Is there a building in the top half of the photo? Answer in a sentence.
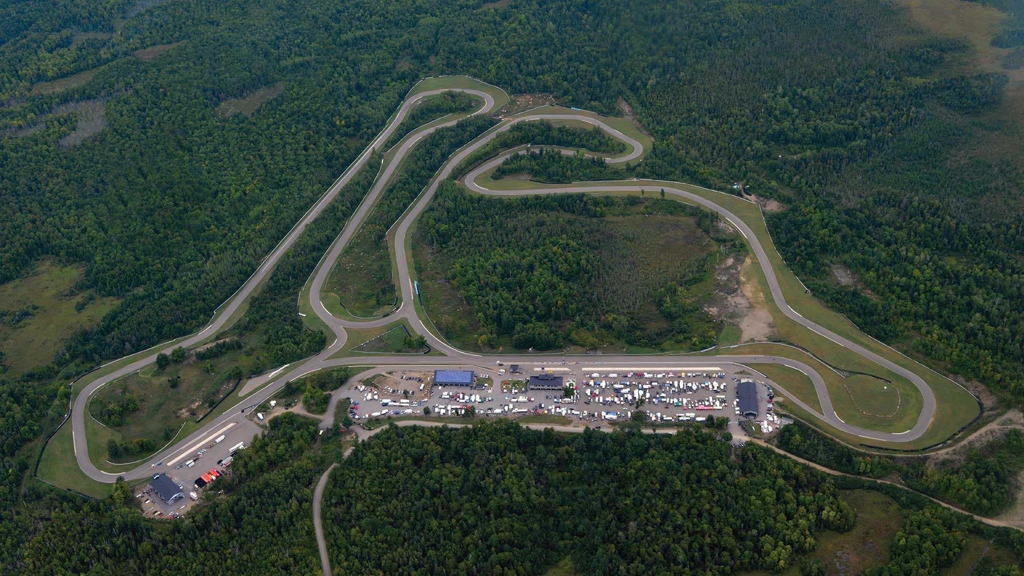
No, looking in the top half of the photo, there is no building.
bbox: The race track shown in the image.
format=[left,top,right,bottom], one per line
[72,89,935,485]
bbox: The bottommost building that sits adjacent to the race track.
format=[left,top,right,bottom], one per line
[152,473,183,504]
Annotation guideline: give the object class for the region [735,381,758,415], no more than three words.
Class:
building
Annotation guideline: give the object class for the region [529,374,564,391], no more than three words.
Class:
building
